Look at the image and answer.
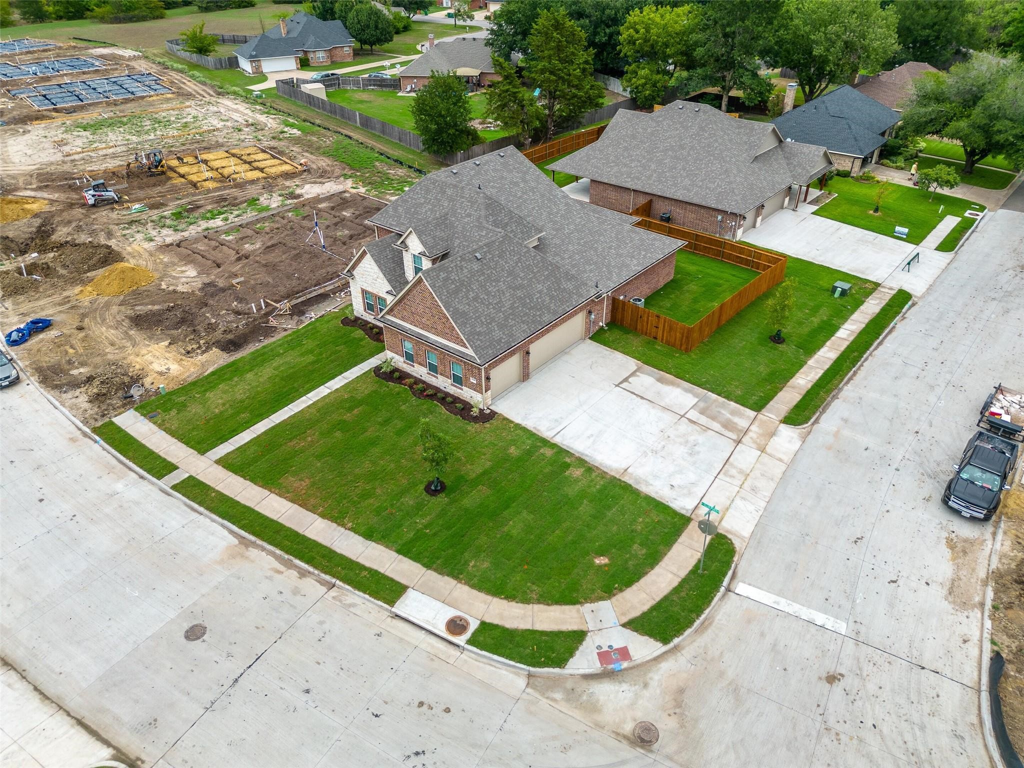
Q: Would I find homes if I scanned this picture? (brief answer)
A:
Yes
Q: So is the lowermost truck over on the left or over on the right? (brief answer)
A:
right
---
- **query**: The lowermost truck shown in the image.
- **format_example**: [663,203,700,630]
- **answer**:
[941,430,1021,527]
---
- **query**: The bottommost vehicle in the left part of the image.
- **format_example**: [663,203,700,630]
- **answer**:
[0,344,22,388]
